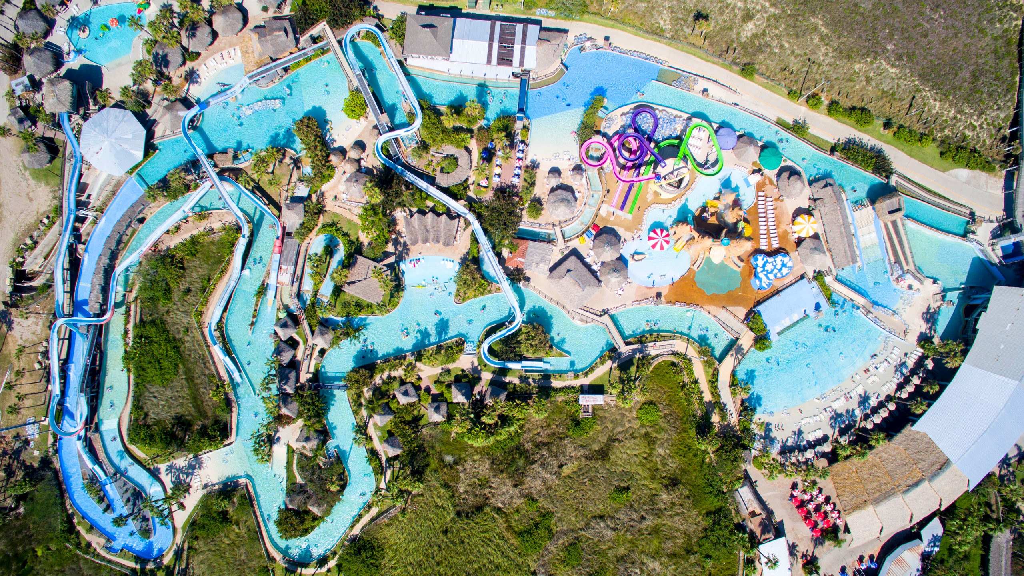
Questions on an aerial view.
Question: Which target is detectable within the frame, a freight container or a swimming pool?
swimming pool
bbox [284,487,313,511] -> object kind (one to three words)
shed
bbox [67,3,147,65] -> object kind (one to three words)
swimming pool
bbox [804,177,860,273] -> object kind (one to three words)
building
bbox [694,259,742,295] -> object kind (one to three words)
swimming pool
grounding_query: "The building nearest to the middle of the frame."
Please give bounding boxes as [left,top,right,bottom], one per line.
[549,250,601,310]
